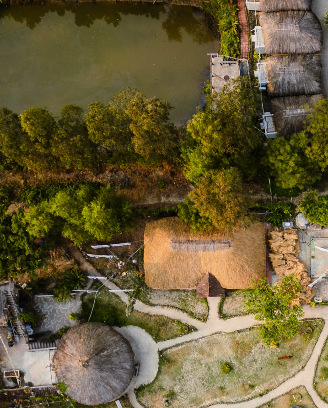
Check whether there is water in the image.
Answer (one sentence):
Yes, there is water in the image.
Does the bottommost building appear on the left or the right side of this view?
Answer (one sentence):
You can find the bottommost building on the left side of the picture.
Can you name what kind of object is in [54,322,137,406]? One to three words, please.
building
